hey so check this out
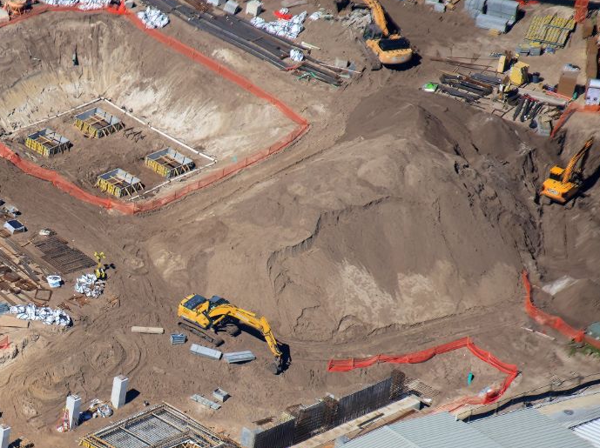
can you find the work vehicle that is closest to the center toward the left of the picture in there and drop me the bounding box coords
[175,284,288,369]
